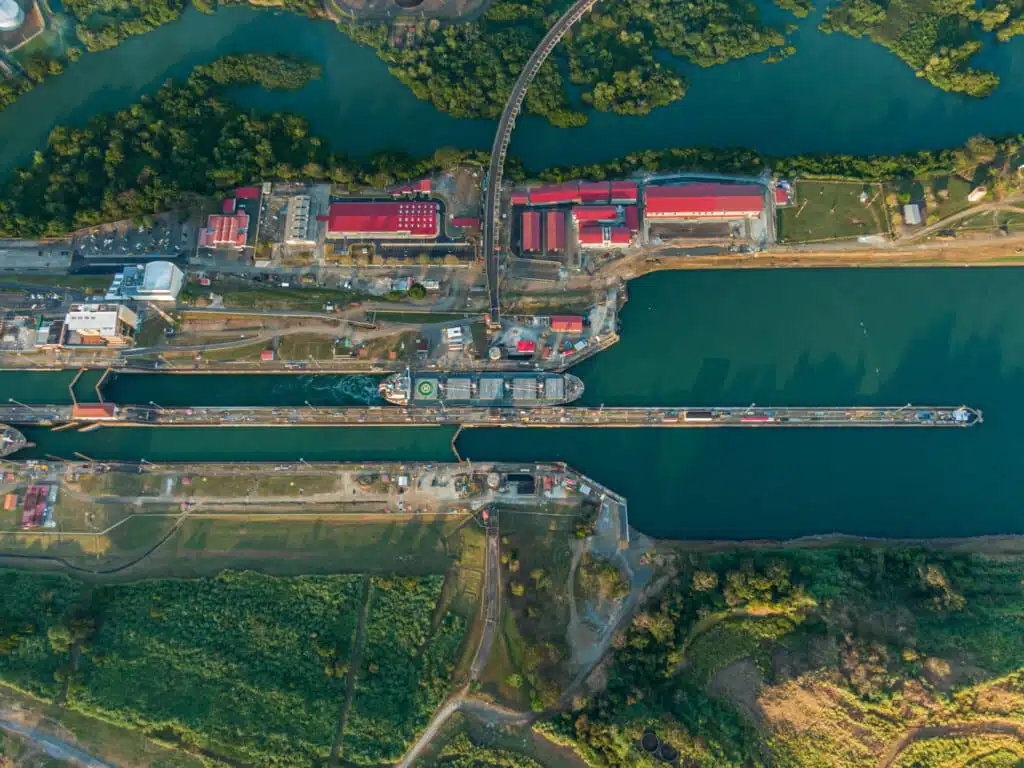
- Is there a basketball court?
No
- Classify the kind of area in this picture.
port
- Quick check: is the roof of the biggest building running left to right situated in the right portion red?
Yes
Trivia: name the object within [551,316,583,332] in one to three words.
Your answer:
shed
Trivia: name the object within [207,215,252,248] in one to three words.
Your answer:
building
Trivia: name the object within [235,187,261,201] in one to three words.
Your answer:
shed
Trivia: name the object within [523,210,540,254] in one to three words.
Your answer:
building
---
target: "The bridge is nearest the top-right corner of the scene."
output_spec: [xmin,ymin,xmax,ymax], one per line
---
[485,0,600,325]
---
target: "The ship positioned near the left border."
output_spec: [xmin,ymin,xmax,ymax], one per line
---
[0,426,27,461]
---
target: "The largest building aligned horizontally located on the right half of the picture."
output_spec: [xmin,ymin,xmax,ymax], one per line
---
[644,186,765,216]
